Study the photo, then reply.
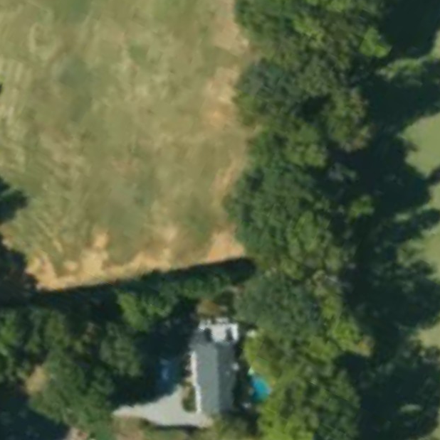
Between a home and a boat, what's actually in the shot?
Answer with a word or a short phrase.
home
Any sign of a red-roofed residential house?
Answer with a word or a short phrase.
No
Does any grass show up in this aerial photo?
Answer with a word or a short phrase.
Yes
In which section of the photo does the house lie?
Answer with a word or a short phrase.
bottom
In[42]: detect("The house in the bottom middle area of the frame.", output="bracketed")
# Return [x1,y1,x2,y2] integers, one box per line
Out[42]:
[196,347,238,416]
